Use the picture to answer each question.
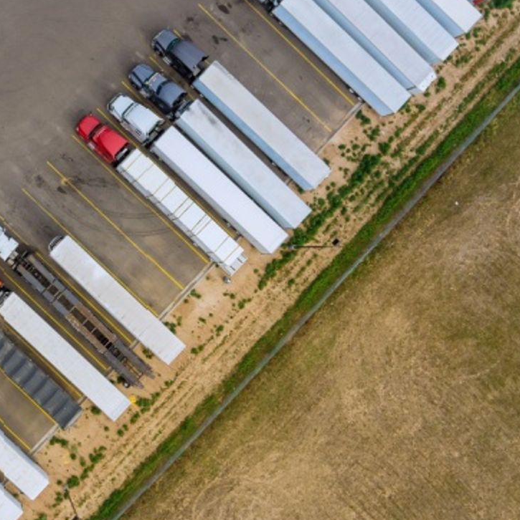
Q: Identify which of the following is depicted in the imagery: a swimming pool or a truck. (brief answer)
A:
truck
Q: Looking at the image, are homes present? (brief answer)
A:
No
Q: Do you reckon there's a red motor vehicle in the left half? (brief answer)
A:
Yes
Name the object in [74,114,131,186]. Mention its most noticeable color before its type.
red truck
